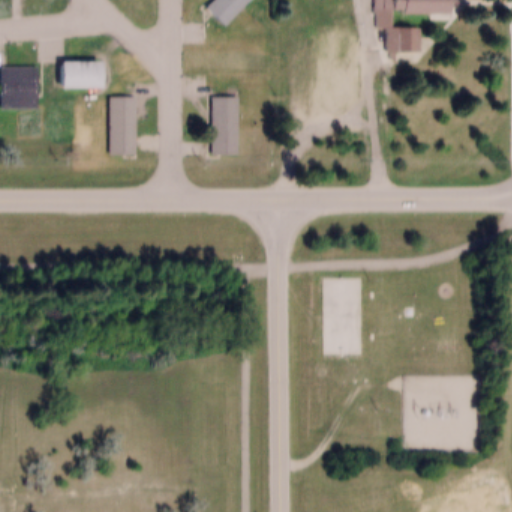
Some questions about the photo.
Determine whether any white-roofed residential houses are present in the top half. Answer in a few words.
Yes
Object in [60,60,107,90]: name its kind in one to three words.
house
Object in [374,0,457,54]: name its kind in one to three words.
house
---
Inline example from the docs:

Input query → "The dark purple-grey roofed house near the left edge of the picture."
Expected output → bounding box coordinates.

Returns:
[0,65,41,109]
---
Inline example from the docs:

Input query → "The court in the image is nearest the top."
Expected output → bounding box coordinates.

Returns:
[322,278,362,356]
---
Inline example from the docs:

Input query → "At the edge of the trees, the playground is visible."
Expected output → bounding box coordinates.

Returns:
[403,376,478,450]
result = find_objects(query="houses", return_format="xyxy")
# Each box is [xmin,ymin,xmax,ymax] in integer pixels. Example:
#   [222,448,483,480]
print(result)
[209,0,250,26]
[210,96,239,155]
[109,96,136,156]
[0,65,41,109]
[60,60,107,90]
[374,0,457,54]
